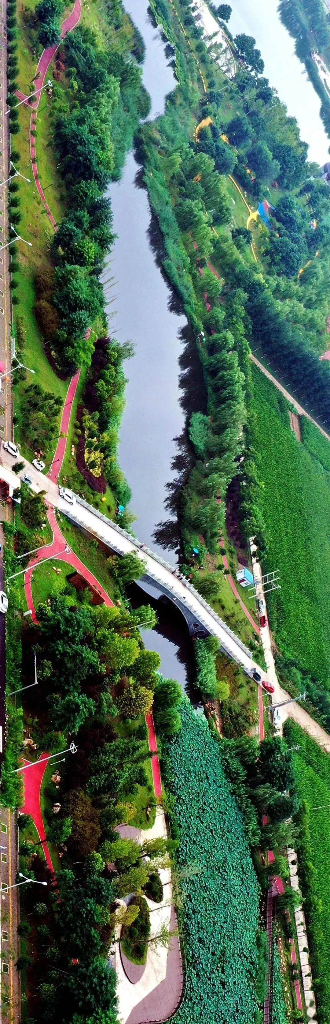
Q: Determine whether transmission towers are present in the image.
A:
Yes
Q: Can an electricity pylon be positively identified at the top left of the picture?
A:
No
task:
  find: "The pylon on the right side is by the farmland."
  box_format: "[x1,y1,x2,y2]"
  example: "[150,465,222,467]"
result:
[248,569,282,599]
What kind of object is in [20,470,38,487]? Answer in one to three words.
car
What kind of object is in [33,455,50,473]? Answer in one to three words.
car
